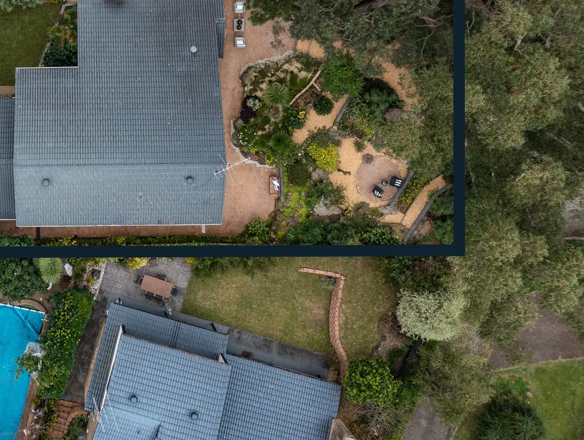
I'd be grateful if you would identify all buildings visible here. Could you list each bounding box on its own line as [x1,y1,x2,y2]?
[69,285,342,440]
[0,0,226,227]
